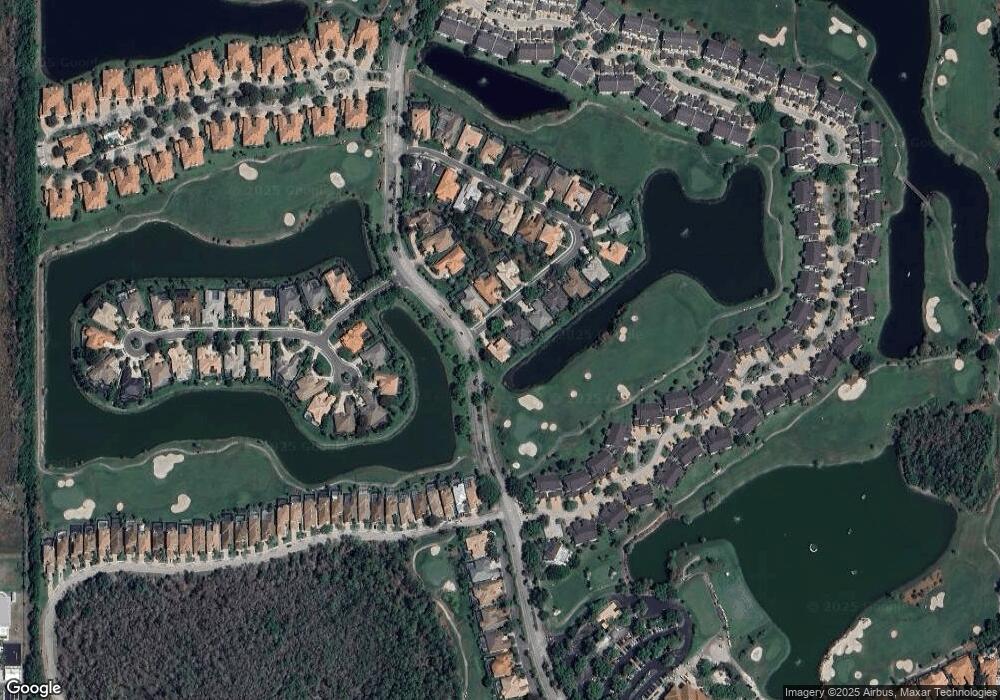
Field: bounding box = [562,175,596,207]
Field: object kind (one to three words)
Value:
house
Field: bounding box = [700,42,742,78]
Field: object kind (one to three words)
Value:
house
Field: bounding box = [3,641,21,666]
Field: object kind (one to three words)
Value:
building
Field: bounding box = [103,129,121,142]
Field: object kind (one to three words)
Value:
swimming pool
